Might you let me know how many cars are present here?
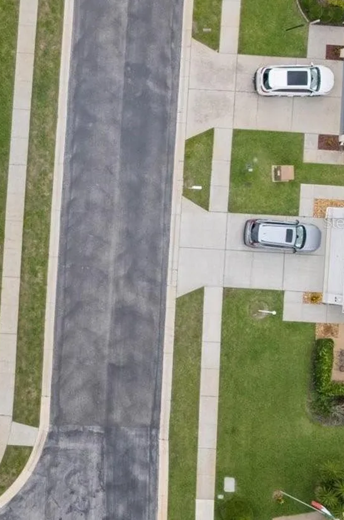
two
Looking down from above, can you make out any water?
No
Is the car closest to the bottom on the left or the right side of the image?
right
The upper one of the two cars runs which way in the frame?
horizontally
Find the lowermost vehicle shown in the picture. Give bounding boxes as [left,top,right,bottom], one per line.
[240,217,322,257]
